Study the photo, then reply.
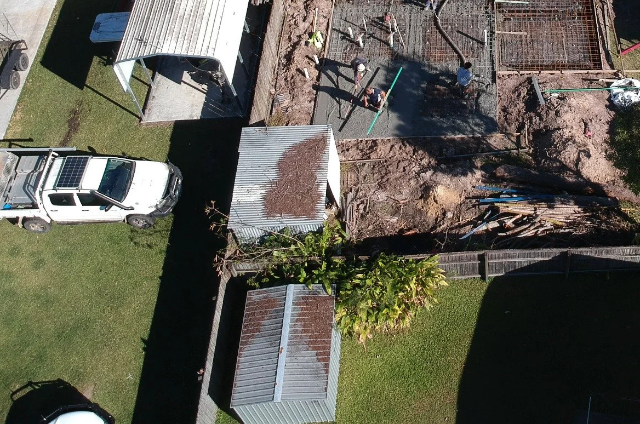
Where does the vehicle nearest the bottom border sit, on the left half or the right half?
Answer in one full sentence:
It is on the left.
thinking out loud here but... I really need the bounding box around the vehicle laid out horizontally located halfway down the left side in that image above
[0,144,187,236]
